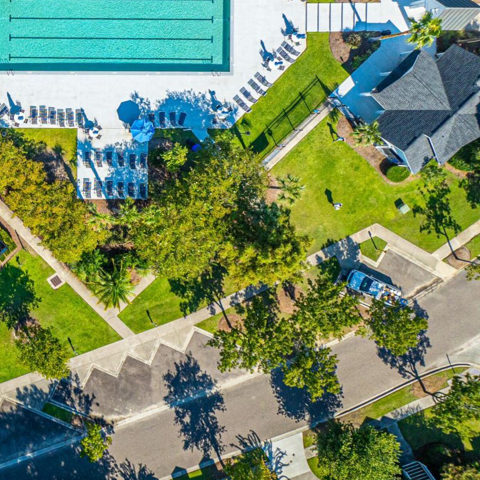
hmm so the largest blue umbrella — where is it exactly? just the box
[130,119,155,143]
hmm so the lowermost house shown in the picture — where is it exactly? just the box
[359,45,480,175]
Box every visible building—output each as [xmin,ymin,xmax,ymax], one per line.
[412,0,478,32]
[359,45,480,175]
